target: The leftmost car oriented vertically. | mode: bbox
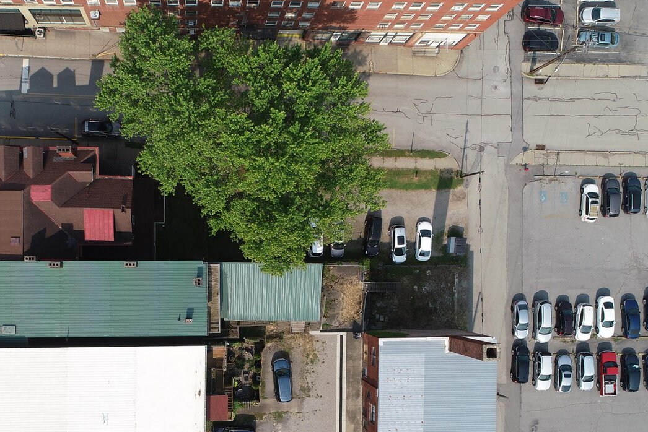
[271,356,293,402]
